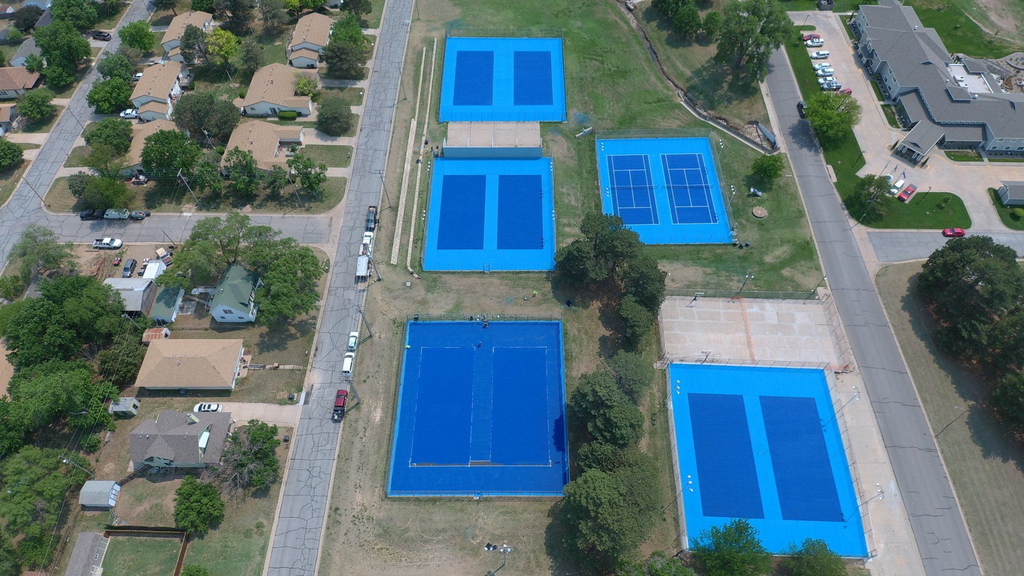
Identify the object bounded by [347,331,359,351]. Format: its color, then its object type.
white vehicle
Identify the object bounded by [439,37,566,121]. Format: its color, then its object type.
blue tennis court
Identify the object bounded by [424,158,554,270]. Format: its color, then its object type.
blue tennis court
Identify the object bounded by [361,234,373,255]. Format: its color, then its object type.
white vehicle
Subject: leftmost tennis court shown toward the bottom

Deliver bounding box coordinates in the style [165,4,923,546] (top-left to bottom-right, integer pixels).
[388,321,571,497]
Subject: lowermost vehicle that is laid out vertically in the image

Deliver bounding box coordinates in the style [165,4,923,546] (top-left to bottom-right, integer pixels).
[332,391,347,419]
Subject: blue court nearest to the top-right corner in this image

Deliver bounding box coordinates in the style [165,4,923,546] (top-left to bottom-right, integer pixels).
[597,137,733,244]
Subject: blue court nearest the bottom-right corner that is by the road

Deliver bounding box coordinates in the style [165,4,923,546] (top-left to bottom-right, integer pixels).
[667,362,871,559]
